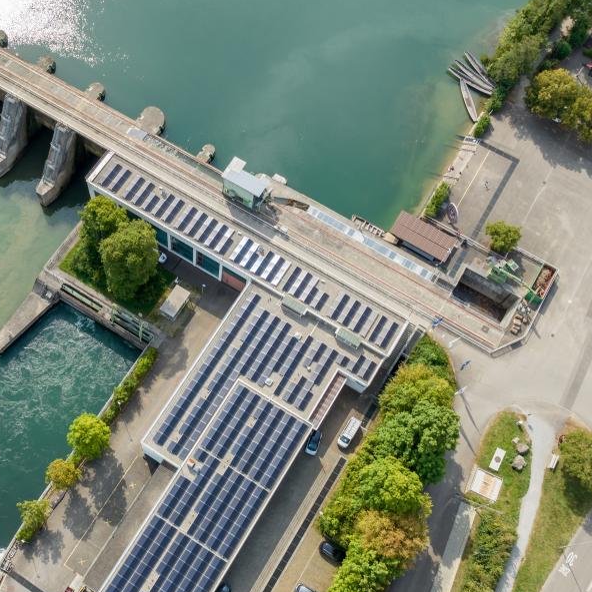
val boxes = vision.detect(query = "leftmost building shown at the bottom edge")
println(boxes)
[101,383,316,592]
